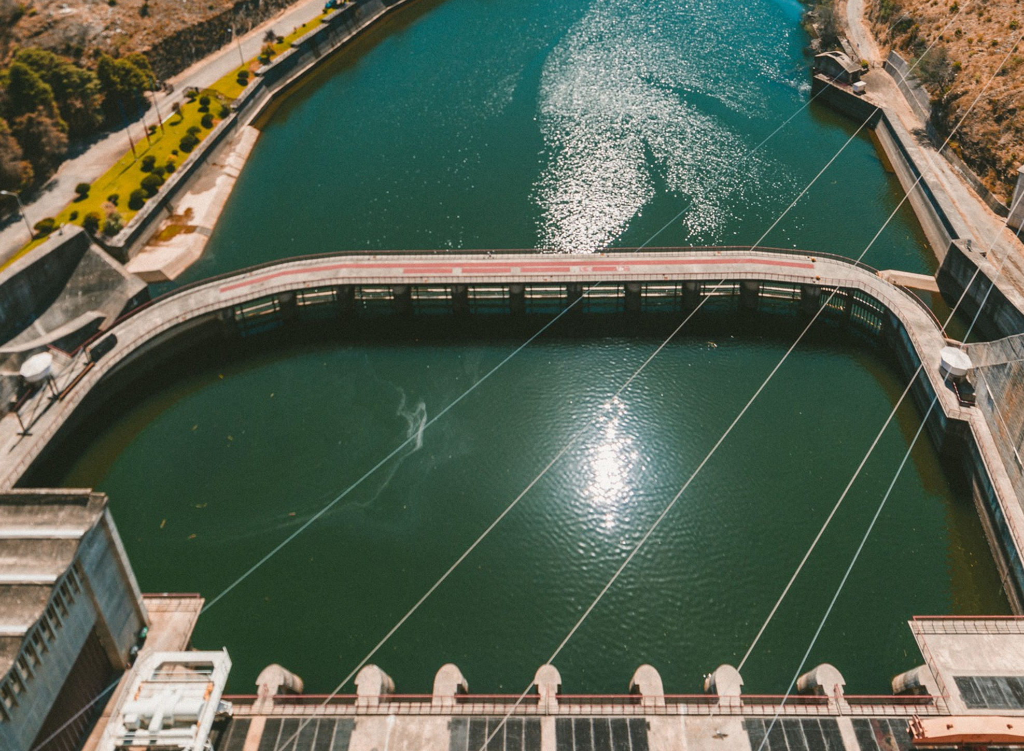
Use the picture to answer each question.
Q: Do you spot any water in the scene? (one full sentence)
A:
Yes, there is water in the image.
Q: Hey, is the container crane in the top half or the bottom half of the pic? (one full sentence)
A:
It is in the bottom half that the container crane appears.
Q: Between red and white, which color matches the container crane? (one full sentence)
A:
From above, the container crane appears white.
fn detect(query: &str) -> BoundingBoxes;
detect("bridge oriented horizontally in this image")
[0,251,948,491]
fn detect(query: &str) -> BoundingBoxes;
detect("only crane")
[112,649,247,751]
